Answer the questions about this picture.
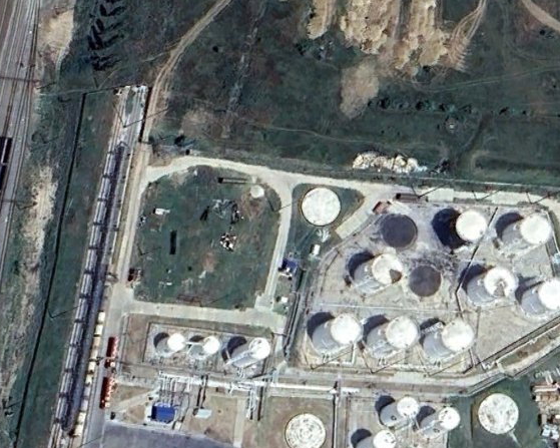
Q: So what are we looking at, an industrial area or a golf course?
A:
industrial area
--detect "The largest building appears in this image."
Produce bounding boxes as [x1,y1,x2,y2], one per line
[151,406,177,424]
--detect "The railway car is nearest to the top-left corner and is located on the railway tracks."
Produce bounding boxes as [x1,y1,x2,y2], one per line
[0,137,13,165]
